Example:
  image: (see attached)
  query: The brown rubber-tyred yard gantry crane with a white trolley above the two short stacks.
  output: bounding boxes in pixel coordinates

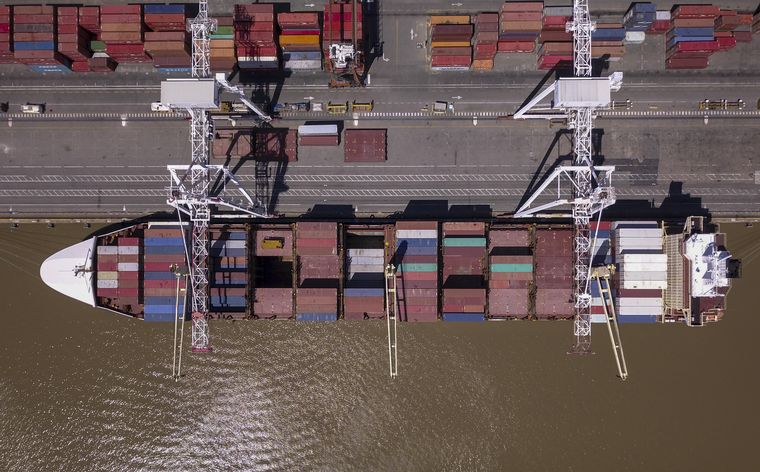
[327,0,366,85]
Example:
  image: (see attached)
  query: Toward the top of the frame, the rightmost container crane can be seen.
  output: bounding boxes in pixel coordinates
[499,0,620,351]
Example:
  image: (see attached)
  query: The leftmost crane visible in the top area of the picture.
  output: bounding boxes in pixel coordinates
[161,0,281,353]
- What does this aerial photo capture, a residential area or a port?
port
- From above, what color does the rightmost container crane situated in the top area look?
white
